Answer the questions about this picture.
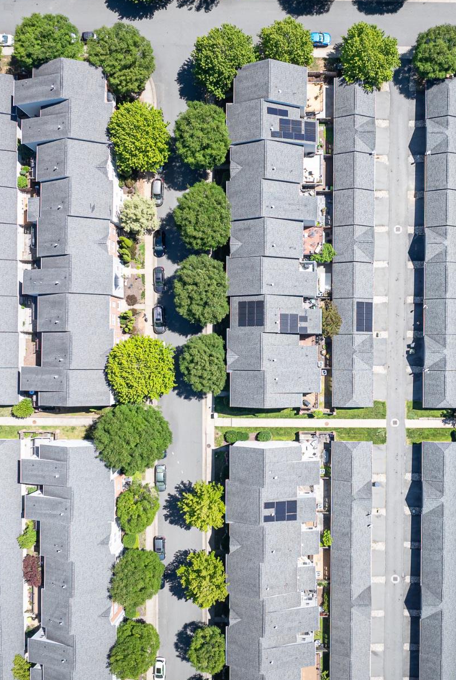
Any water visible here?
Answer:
No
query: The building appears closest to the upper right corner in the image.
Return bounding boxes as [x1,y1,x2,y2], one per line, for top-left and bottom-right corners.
[424,78,456,119]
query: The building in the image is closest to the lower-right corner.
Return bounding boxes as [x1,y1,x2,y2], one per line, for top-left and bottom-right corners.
[419,643,456,680]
